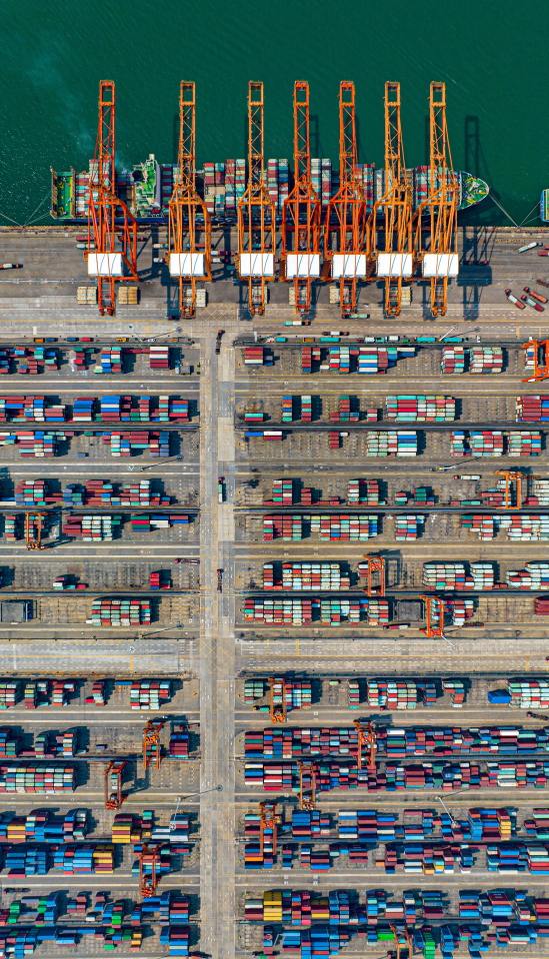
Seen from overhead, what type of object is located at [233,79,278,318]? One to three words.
container crane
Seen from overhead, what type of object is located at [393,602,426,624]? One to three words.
shed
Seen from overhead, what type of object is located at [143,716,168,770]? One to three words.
container crane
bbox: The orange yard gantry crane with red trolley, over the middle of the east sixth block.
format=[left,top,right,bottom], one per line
[360,553,382,598]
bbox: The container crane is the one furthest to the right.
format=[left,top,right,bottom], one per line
[515,334,546,383]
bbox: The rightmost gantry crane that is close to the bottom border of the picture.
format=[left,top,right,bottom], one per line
[384,923,408,959]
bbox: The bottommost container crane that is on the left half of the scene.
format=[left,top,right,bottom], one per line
[141,841,165,904]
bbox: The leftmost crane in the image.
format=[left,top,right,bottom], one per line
[26,510,55,558]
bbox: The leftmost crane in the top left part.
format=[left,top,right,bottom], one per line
[84,79,149,318]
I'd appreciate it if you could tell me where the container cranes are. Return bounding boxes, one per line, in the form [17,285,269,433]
[84,79,149,318]
[319,79,365,318]
[233,79,278,318]
[360,553,382,598]
[403,79,457,318]
[362,79,410,318]
[107,757,133,814]
[141,841,165,904]
[258,804,278,863]
[351,716,375,770]
[384,923,408,959]
[277,79,319,318]
[415,595,440,643]
[165,79,220,318]
[490,470,519,514]
[26,510,55,558]
[295,757,316,815]
[515,334,546,383]
[143,716,168,770]
[267,677,288,731]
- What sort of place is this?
port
